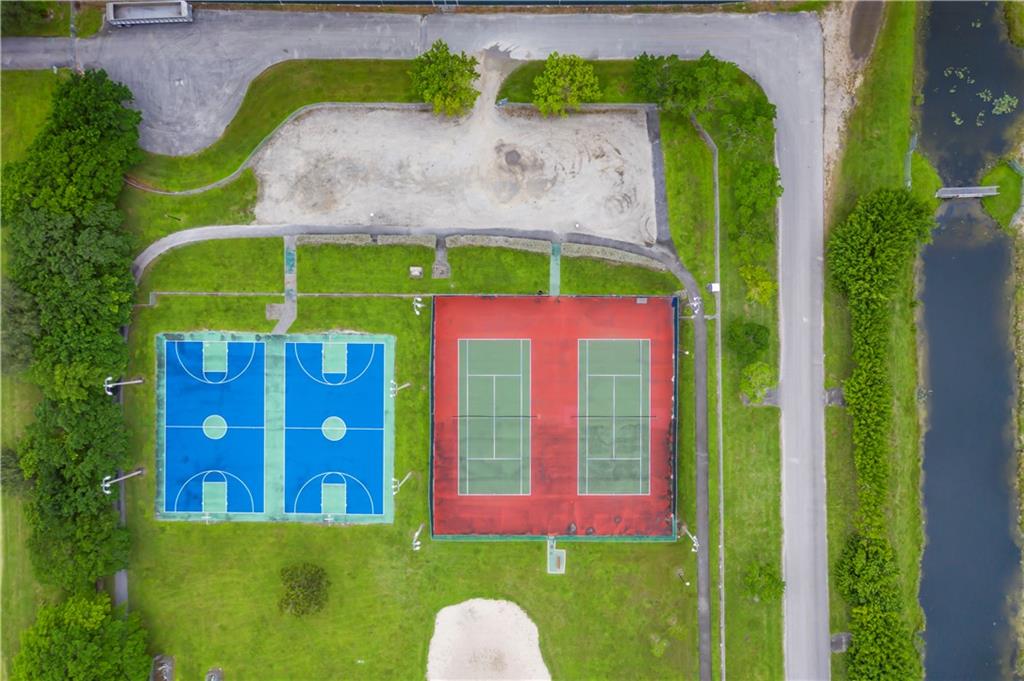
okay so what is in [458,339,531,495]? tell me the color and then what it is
green tennis court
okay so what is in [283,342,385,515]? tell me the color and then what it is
blue basketball court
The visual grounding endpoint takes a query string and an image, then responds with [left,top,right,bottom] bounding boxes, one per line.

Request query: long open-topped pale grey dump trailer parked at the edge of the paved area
[105,0,197,29]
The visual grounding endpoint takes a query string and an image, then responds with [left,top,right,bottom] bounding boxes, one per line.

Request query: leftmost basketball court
[164,341,266,513]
